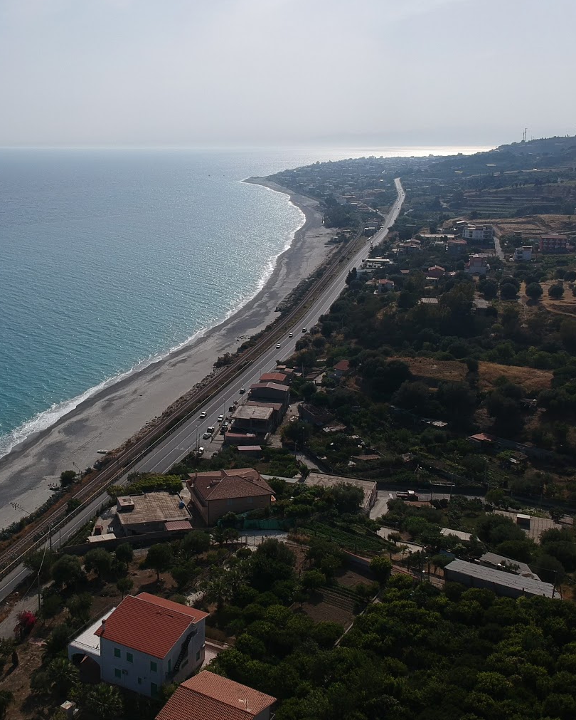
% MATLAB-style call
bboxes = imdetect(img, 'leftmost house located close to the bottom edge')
[72,595,202,701]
